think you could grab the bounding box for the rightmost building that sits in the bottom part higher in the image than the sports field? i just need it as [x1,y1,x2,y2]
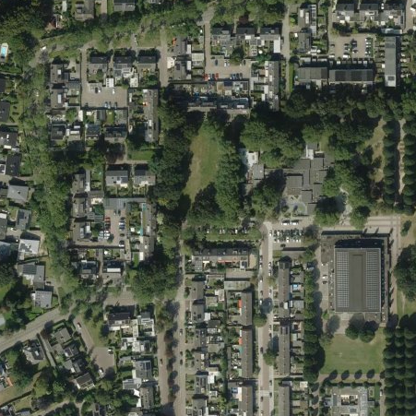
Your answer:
[322,235,380,312]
